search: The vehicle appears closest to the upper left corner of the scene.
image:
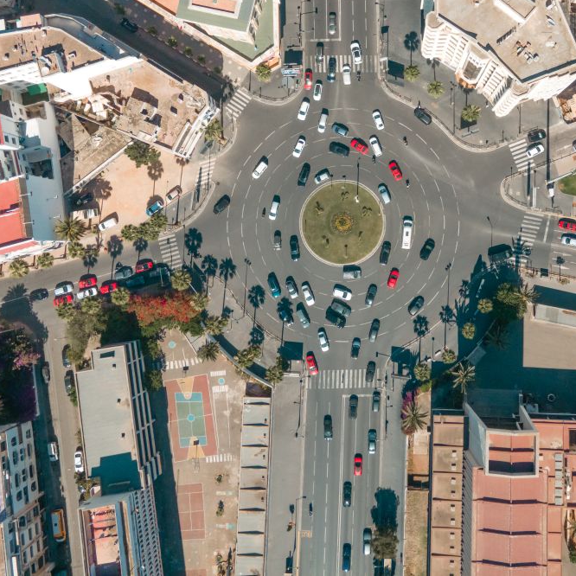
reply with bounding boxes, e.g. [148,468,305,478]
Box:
[120,17,139,32]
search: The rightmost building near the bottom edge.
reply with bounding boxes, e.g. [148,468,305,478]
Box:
[450,370,576,576]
